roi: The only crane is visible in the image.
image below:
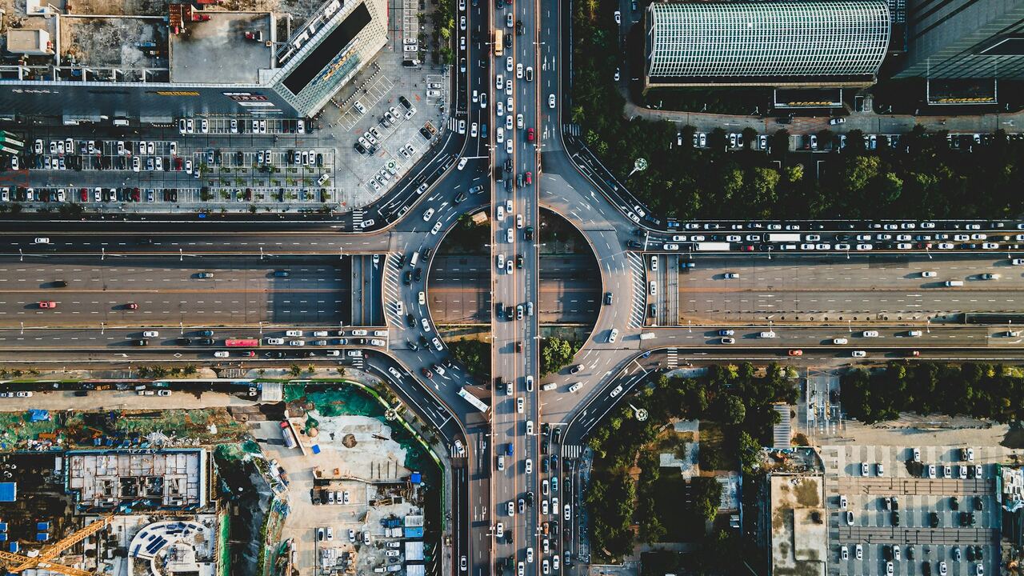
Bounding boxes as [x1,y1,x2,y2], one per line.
[1,514,117,576]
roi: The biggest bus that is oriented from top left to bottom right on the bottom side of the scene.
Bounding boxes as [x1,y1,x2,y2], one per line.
[459,387,490,414]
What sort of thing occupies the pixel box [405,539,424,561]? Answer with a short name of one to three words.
shed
